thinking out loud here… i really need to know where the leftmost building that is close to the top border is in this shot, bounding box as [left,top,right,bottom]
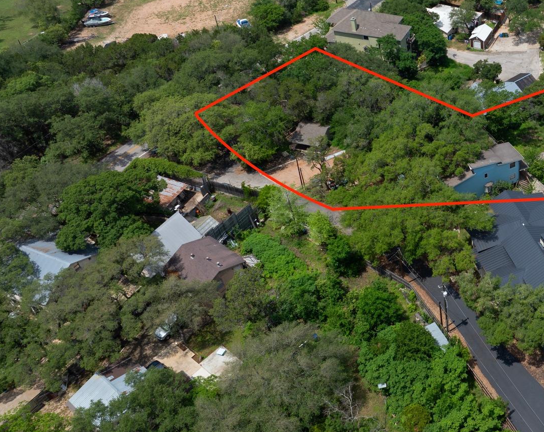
[326,7,416,60]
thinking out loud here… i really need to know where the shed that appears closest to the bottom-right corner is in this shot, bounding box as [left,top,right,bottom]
[426,322,448,353]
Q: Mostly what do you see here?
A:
trees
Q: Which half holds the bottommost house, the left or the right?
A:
left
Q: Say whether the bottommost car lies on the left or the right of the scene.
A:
left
